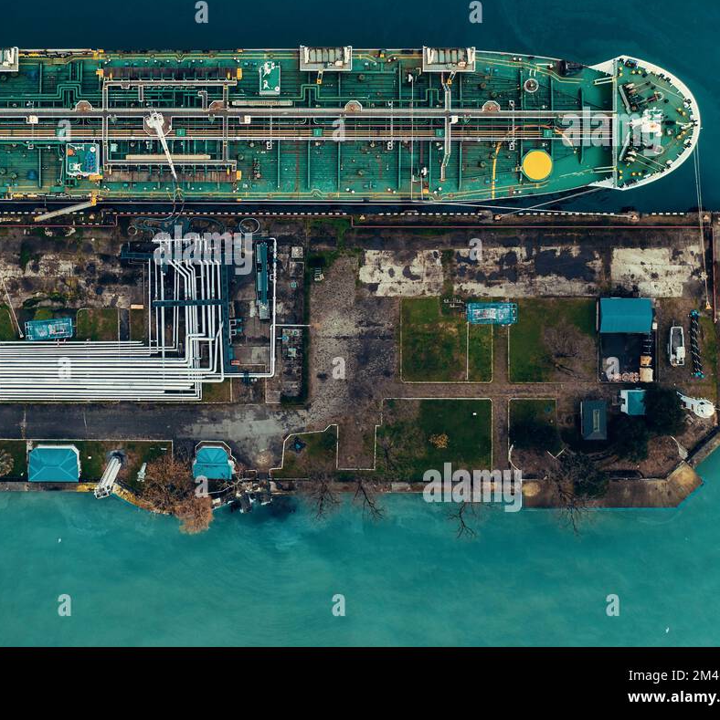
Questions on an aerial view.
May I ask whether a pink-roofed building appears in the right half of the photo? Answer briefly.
No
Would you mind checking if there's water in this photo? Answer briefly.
Yes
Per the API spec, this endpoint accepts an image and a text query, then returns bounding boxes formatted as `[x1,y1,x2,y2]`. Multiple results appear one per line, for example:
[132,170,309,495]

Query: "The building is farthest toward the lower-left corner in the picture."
[29,445,81,481]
